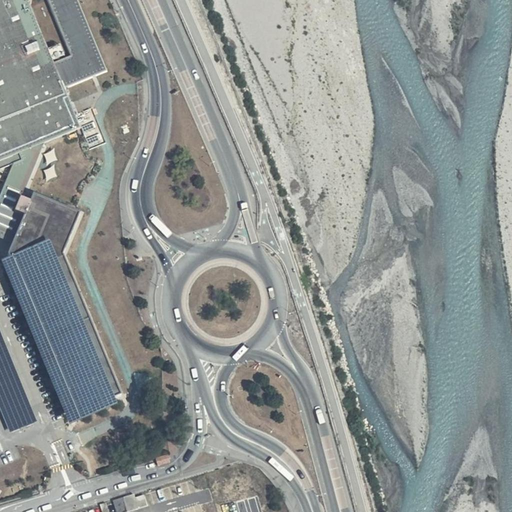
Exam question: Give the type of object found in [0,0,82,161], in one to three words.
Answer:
building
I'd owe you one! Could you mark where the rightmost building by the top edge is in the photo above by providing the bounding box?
[47,0,108,88]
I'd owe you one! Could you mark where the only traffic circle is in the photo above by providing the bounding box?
[163,240,286,364]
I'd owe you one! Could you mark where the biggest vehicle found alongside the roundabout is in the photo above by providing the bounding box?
[241,202,260,244]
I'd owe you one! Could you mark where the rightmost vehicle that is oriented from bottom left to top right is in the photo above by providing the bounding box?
[232,344,248,360]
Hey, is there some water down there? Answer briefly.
Yes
